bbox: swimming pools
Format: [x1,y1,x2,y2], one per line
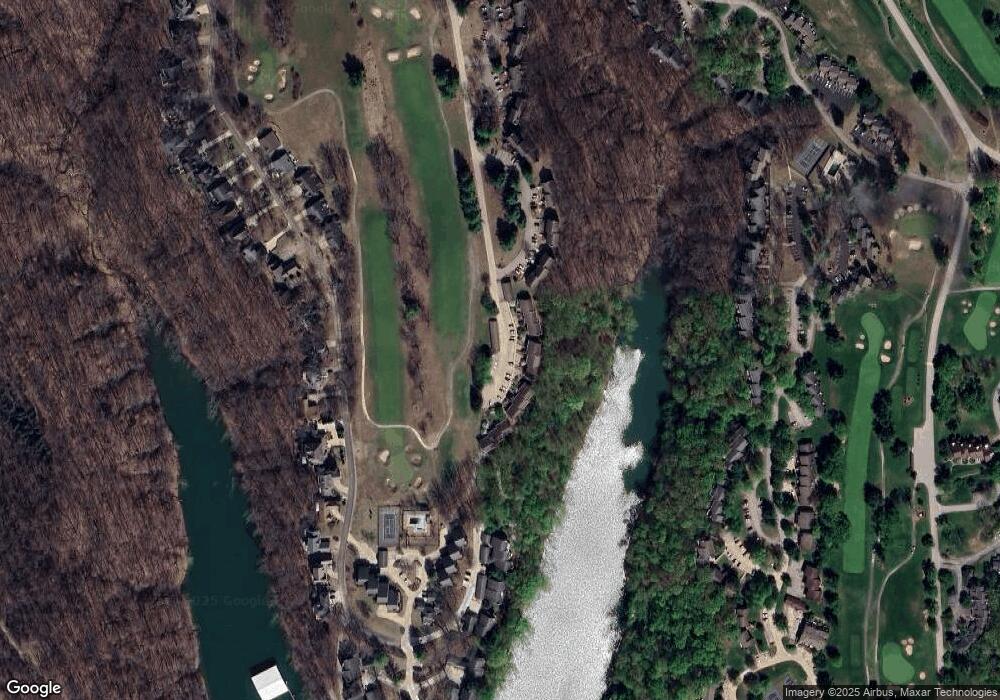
[823,150,846,181]
[402,507,440,547]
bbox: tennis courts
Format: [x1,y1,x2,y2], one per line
[793,136,829,176]
[379,506,399,547]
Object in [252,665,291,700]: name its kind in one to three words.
building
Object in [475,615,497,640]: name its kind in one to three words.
house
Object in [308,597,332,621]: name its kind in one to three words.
house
